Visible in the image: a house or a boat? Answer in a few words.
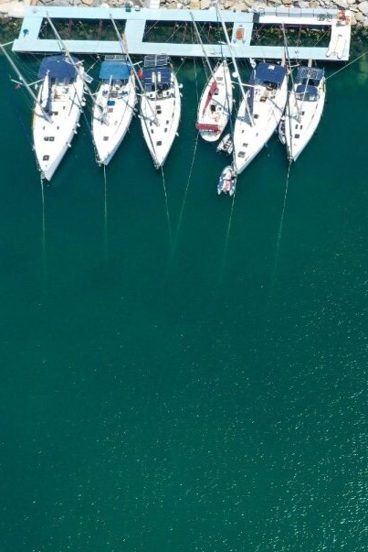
boat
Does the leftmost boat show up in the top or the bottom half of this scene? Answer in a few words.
top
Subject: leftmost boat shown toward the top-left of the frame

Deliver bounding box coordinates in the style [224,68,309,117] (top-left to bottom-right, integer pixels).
[0,13,91,179]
